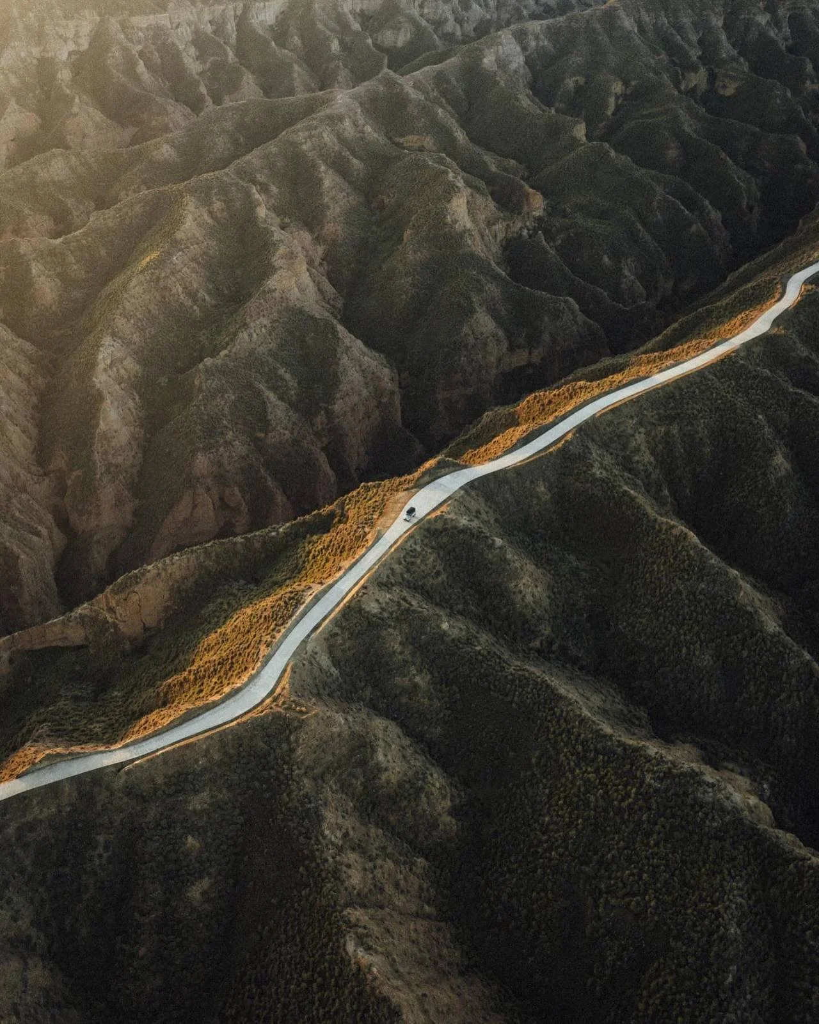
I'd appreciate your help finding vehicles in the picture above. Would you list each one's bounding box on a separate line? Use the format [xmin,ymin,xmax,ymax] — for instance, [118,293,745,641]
[403,506,417,521]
